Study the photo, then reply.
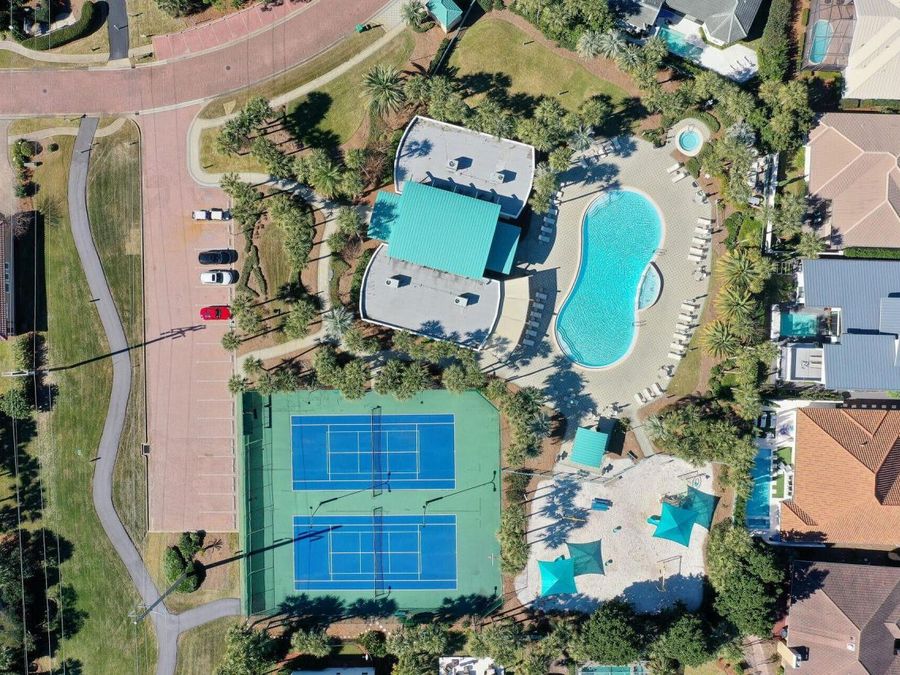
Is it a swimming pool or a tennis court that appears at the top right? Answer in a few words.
swimming pool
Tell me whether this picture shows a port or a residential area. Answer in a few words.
residential area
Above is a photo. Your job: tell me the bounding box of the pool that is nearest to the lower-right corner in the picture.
[744,447,773,531]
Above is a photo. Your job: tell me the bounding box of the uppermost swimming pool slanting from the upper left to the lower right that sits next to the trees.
[657,25,707,62]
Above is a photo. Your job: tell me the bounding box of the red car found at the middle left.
[198,305,229,321]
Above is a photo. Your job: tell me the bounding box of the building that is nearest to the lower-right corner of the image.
[774,560,900,675]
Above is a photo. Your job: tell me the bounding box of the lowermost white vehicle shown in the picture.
[197,269,232,285]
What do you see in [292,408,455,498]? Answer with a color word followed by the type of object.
blue tennis court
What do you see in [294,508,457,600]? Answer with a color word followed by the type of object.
blue tennis court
